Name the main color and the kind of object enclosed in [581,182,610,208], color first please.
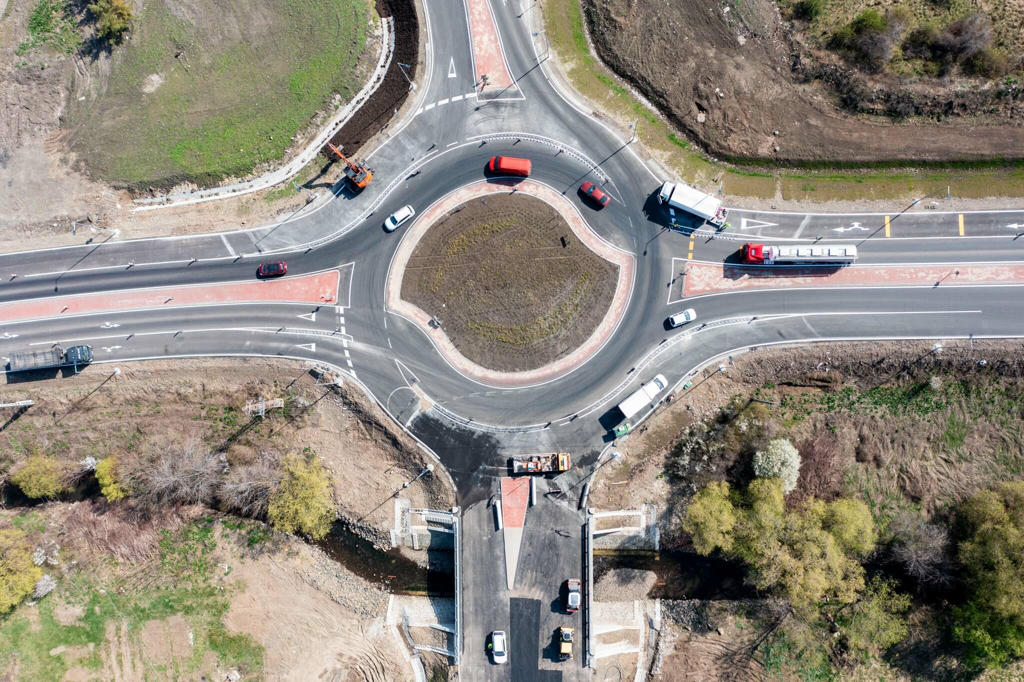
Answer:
red car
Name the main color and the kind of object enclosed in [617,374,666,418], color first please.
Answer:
white van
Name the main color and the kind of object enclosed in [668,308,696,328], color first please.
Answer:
white car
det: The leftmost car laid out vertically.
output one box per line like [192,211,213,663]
[492,630,508,663]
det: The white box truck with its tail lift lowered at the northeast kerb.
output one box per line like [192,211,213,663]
[652,176,724,224]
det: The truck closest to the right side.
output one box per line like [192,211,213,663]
[736,244,861,265]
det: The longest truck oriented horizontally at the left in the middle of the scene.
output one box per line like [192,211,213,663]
[15,342,95,370]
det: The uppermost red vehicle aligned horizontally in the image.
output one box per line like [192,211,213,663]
[490,158,531,178]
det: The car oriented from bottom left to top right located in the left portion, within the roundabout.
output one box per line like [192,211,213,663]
[385,204,416,233]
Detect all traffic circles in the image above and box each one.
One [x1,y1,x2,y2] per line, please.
[25,132,981,433]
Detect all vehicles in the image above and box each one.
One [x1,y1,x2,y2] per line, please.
[581,182,610,208]
[512,451,573,473]
[652,176,724,224]
[258,261,289,277]
[560,625,574,659]
[15,342,95,370]
[736,244,861,265]
[617,374,666,418]
[490,158,531,178]
[385,204,416,233]
[331,144,379,194]
[612,424,631,439]
[492,630,508,663]
[668,308,696,328]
